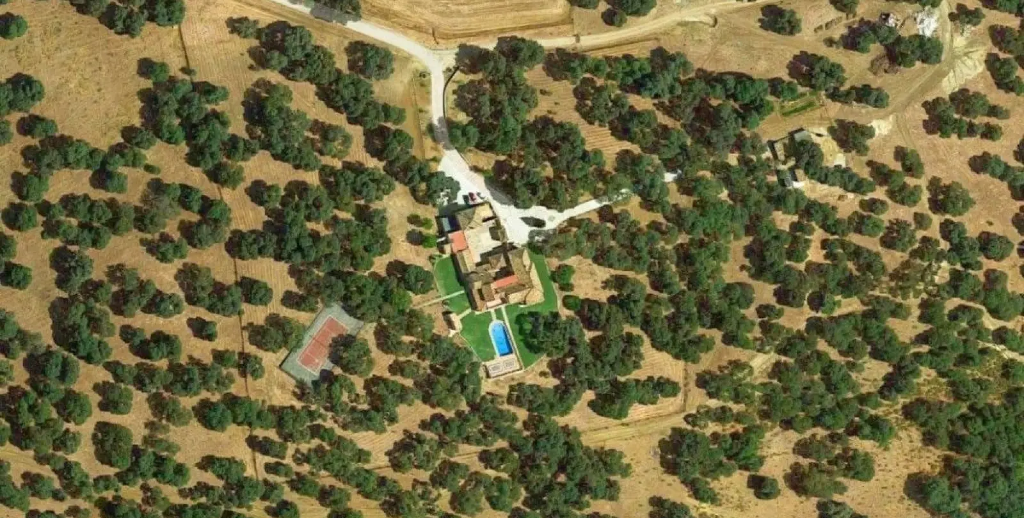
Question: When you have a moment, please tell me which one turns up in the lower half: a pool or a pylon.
pool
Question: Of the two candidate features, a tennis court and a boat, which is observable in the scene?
tennis court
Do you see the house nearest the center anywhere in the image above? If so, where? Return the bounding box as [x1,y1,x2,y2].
[442,202,534,311]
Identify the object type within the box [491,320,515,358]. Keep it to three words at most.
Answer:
swimming pool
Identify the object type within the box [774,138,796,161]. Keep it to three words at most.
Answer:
barn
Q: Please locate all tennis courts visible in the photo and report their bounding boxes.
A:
[280,301,363,383]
